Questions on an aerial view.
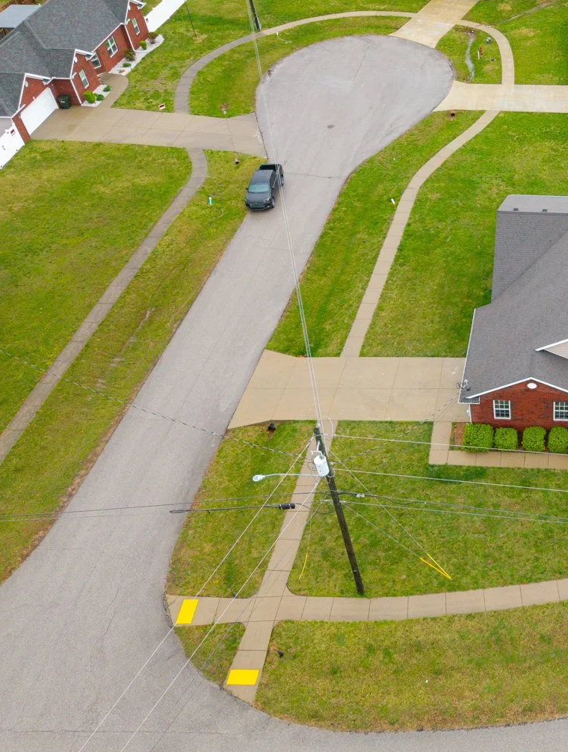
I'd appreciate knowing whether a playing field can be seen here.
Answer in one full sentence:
No, there appears to be no playing field in this shot.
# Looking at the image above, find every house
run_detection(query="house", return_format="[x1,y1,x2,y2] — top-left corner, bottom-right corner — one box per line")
[457,194,568,428]
[0,0,151,143]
